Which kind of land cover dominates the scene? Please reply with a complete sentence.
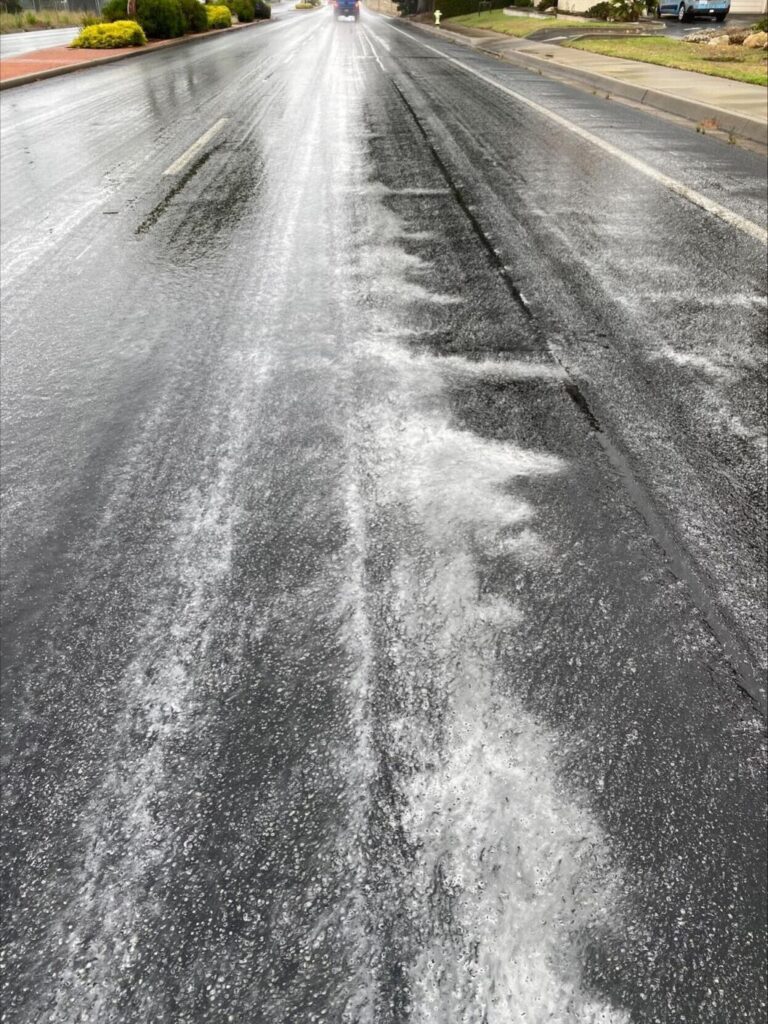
The largest share of the image is taken up by paved ground.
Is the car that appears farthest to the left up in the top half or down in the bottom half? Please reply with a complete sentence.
It is in the top half that the car that appears farthest to the left appears.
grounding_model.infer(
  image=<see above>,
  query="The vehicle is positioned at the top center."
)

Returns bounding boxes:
[332,0,360,21]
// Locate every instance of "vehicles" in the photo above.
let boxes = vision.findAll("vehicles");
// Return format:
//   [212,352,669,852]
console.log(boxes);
[652,0,735,22]
[332,0,360,21]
